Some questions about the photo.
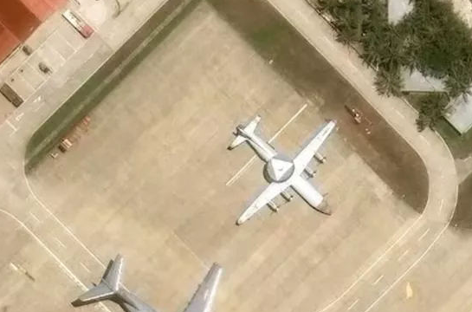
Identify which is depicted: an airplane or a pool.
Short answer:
airplane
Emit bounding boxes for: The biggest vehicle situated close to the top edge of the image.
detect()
[62,8,94,37]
